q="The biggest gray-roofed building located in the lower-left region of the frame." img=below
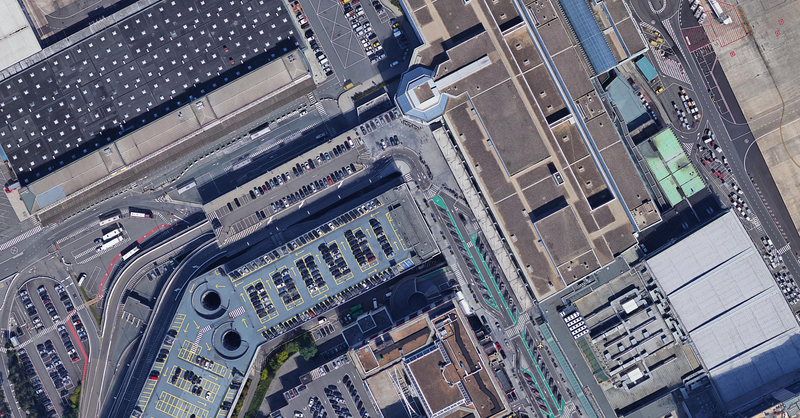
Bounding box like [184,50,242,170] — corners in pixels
[123,296,151,319]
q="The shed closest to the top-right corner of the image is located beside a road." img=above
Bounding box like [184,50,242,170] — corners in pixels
[634,55,658,81]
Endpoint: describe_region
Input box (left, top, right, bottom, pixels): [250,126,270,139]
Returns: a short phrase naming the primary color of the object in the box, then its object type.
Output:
white vehicle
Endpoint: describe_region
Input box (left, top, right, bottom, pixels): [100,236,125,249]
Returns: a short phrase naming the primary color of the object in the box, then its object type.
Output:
white vehicle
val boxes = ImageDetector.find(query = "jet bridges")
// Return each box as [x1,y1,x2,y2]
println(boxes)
[710,0,736,30]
